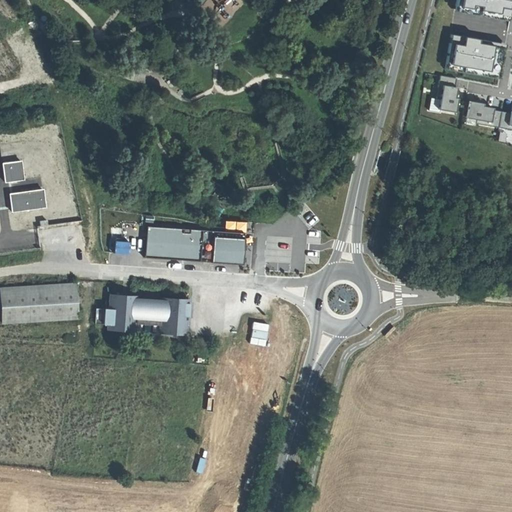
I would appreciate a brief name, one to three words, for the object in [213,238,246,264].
building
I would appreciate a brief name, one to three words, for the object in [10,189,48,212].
building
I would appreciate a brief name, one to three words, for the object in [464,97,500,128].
house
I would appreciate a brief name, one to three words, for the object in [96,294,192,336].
house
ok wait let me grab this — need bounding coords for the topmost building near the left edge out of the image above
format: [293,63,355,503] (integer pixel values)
[2,161,26,184]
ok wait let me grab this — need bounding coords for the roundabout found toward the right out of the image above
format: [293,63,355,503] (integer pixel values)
[284,215,418,368]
